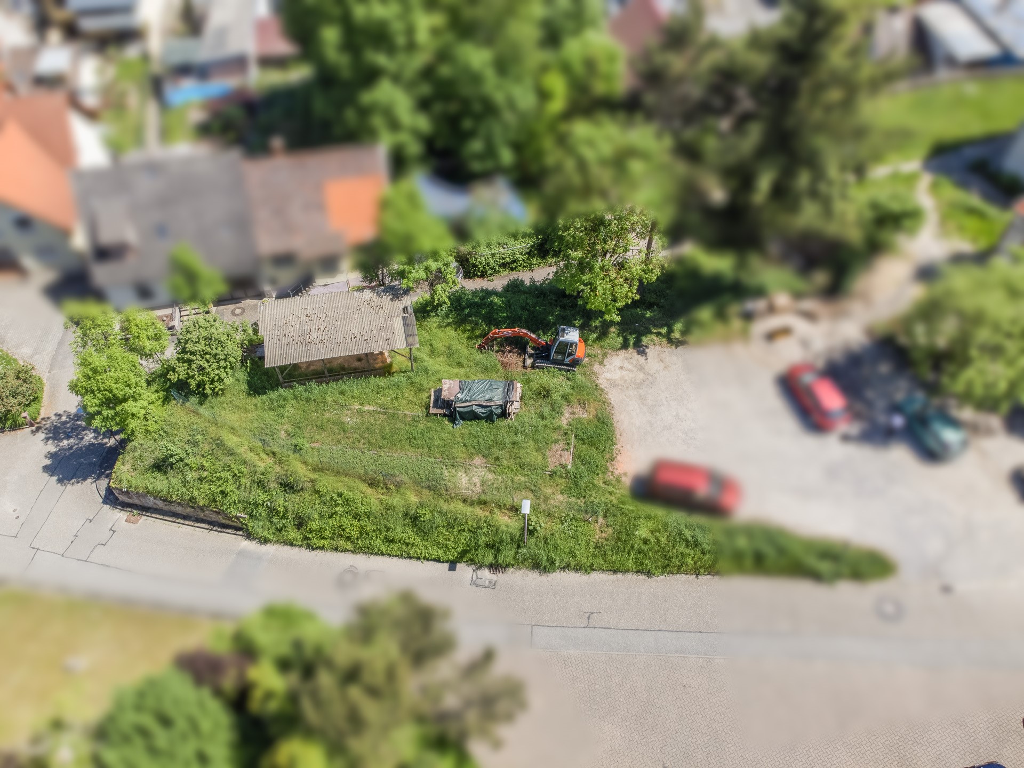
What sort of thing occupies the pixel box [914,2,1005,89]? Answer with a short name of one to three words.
building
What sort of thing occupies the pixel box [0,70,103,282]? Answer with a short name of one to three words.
house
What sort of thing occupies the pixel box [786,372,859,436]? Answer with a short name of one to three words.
car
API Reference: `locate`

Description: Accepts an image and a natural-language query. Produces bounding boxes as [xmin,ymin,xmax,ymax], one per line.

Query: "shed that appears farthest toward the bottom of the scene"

[260,286,421,386]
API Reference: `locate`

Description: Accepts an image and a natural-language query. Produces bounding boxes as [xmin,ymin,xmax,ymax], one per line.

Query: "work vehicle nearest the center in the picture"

[474,320,585,372]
